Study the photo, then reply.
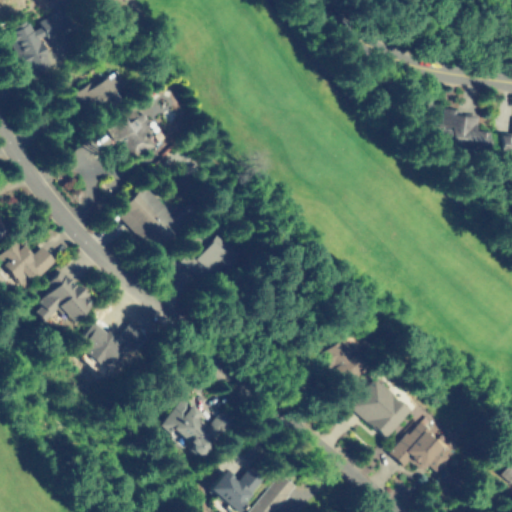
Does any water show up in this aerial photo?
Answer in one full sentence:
No, the picture contains no water.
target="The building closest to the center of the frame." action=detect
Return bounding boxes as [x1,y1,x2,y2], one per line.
[193,237,240,279]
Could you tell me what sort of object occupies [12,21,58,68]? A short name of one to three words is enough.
house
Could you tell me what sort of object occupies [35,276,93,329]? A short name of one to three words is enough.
house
